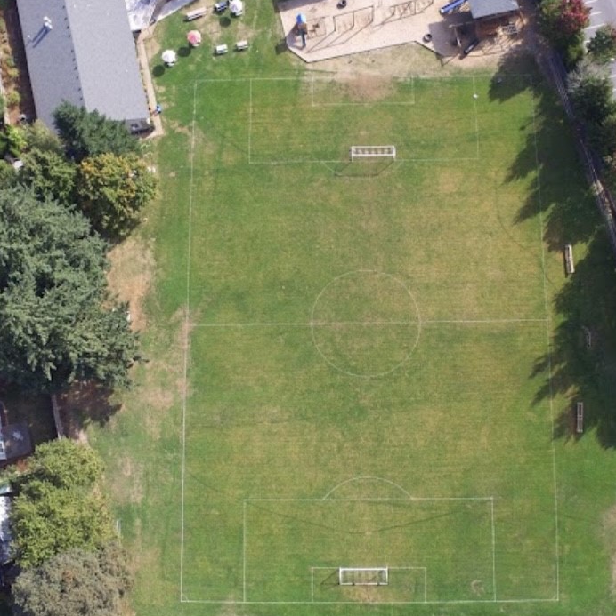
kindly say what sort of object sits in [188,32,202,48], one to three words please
umbrella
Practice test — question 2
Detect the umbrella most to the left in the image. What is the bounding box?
[163,50,177,65]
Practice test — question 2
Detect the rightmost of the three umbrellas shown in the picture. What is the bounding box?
[230,0,244,14]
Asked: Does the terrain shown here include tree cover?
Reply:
Yes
